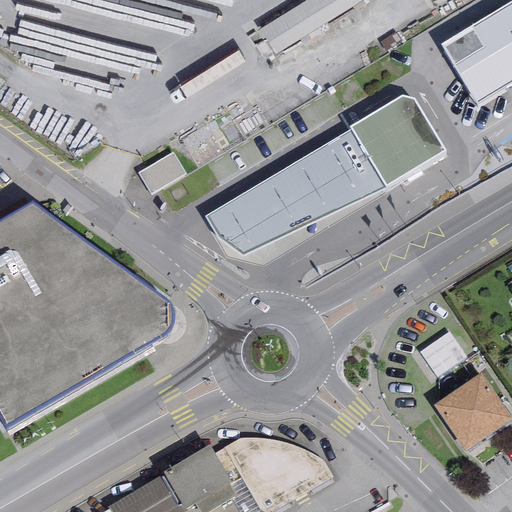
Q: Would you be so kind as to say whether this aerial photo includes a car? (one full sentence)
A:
Yes, there's a car here.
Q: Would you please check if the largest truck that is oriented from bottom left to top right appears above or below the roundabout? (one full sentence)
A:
The largest truck that is oriented from bottom left to top right is found above the roundabout in the photo.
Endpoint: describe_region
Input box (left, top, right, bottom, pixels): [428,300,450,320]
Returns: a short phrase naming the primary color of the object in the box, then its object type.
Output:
white car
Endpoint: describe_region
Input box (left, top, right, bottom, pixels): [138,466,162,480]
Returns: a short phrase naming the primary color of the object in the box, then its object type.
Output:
black vehicle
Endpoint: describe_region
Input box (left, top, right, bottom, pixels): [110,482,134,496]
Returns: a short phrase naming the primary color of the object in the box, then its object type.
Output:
white vehicle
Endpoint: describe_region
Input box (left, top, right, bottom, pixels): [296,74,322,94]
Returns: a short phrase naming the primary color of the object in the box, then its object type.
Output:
white vehicle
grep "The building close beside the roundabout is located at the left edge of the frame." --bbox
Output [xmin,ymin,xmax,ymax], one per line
[0,197,175,434]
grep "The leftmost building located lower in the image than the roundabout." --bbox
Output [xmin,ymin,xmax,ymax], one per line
[104,474,182,512]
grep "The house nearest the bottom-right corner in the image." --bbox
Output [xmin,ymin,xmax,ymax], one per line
[434,372,512,454]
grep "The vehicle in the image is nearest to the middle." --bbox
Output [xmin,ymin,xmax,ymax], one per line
[250,298,271,314]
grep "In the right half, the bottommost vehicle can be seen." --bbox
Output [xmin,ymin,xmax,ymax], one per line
[370,486,384,505]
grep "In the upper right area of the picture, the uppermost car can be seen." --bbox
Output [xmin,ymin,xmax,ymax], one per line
[389,50,412,66]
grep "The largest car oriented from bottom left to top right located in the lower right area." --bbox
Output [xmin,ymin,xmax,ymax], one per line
[436,372,456,389]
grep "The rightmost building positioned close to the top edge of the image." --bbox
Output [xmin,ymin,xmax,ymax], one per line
[441,2,512,109]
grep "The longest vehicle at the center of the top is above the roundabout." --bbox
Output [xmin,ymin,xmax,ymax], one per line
[170,49,246,106]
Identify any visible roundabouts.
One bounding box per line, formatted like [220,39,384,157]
[154,290,334,414]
